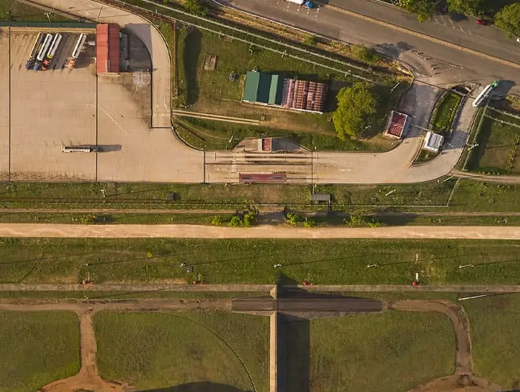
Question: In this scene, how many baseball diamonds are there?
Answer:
0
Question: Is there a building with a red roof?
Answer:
Yes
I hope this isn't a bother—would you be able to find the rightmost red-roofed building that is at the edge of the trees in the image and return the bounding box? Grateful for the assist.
[382,112,408,141]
